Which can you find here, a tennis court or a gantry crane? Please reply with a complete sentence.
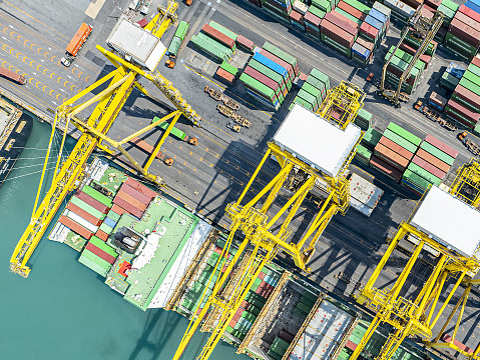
Visible in the photo is a gantry crane.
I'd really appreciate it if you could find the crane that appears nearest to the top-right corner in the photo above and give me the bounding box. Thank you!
[374,0,443,103]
